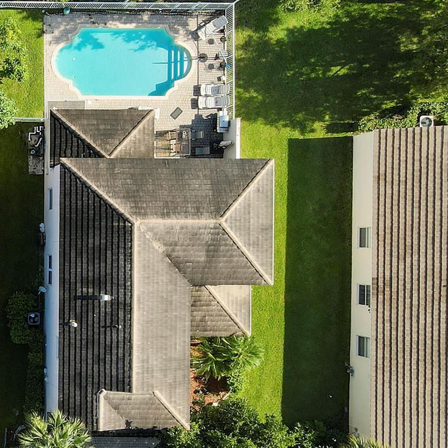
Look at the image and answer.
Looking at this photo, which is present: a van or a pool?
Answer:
pool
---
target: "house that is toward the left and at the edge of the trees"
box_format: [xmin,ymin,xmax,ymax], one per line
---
[42,99,276,435]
